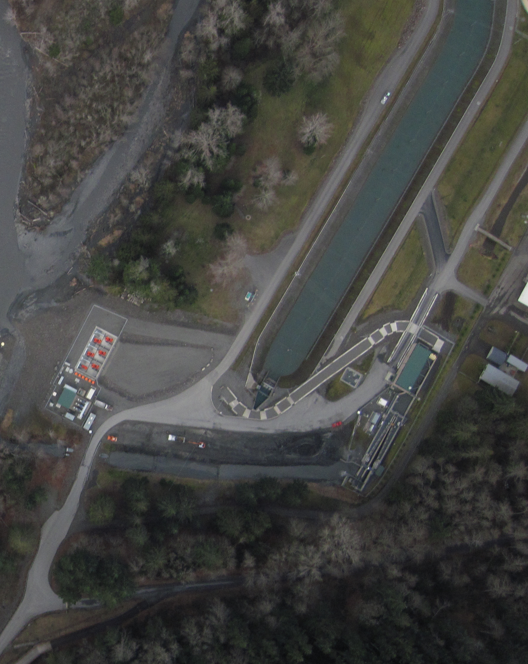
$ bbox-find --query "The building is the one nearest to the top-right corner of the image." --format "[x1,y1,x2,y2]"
[510,276,528,313]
